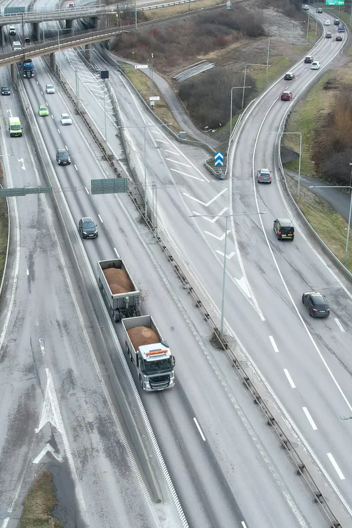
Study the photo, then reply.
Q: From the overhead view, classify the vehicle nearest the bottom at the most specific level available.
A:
truck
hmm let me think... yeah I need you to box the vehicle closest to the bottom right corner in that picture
[299,289,328,317]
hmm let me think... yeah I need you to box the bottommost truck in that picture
[120,314,178,390]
